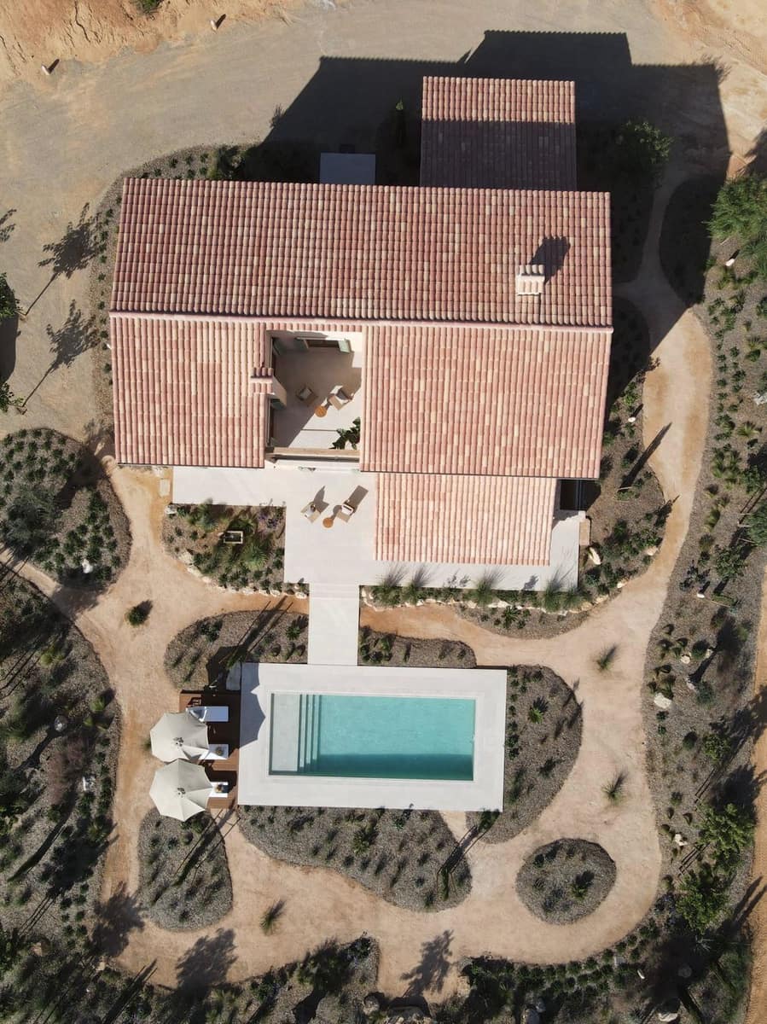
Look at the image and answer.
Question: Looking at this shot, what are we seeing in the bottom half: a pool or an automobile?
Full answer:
Looking in the bottom half, you will find a pool.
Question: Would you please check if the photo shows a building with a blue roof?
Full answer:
No, there isn't any building with a blue roof down there.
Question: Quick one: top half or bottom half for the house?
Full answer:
The house is in the top half of the image.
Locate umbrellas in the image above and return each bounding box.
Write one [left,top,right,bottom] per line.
[150,756,215,819]
[149,706,210,761]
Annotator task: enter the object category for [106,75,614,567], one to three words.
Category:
house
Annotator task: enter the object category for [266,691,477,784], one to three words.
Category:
swimming pool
